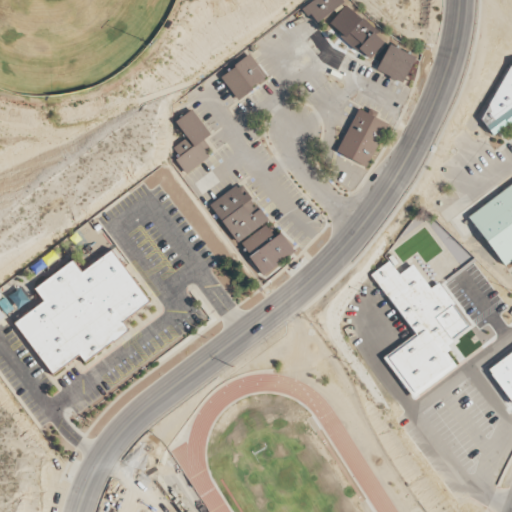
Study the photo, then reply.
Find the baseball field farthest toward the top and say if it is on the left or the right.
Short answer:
left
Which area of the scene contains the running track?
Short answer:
bottom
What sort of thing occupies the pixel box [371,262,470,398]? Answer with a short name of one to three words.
building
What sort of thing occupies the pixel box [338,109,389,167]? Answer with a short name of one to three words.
building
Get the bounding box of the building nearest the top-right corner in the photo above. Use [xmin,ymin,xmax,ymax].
[480,66,512,126]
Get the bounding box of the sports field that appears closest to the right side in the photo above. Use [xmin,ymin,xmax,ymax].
[208,394,371,512]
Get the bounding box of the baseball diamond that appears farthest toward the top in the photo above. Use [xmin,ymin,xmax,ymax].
[0,0,172,95]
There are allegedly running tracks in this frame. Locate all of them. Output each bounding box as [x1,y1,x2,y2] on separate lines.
[172,372,394,512]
